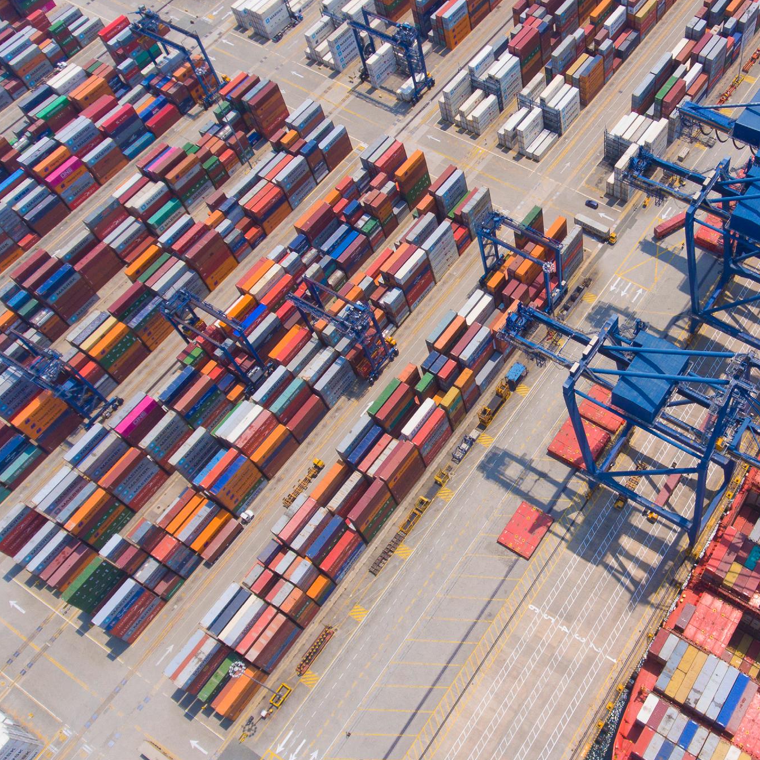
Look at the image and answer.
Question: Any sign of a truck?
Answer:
Yes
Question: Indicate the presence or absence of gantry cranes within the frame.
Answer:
Yes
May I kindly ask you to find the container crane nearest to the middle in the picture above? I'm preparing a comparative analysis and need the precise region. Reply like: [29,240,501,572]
[285,272,396,380]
